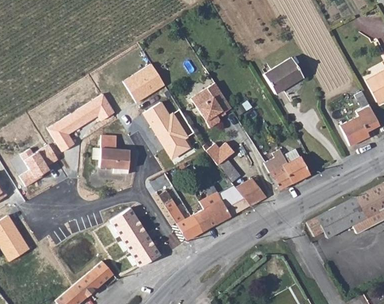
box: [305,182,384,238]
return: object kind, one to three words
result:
building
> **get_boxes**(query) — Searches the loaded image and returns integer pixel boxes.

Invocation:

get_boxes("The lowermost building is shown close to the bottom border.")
[54,262,114,304]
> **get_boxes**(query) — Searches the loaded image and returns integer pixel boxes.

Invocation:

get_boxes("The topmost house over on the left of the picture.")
[122,64,165,103]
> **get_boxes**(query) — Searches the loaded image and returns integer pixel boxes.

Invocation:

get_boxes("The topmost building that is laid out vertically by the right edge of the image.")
[361,54,384,106]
